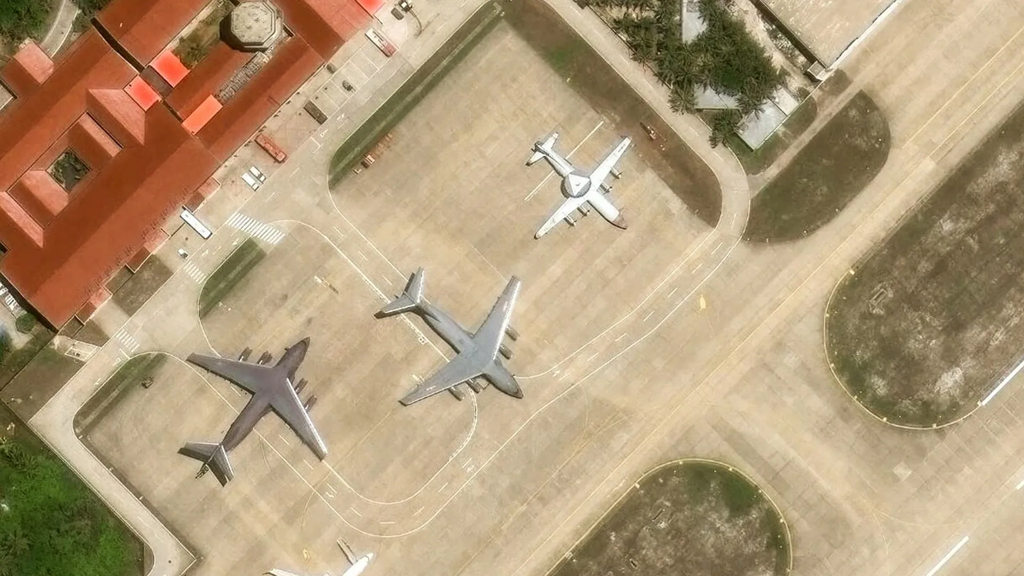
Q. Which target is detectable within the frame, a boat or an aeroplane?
aeroplane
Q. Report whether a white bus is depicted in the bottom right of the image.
No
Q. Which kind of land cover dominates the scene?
paved ground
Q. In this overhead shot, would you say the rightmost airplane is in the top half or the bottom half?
top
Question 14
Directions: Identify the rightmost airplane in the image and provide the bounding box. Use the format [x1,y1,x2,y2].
[525,131,630,237]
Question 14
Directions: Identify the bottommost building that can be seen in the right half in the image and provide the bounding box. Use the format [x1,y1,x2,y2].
[735,101,787,149]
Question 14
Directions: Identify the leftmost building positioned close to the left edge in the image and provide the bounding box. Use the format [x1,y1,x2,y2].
[0,26,224,329]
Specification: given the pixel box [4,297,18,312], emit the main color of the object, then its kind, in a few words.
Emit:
white car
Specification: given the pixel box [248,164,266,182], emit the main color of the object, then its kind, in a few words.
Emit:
white vehicle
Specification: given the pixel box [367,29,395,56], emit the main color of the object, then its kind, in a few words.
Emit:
white bus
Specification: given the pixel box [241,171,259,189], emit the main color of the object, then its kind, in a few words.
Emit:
white vehicle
